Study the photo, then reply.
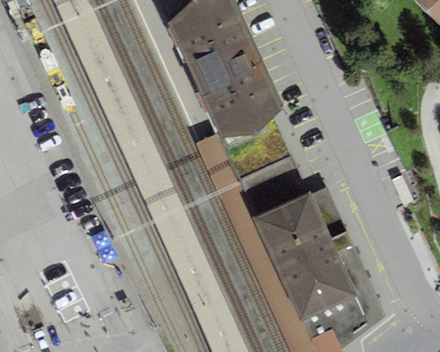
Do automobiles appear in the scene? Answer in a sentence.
Yes, the picture does show an automobile.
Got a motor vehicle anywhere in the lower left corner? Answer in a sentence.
Yes, a motor vehicle appears in the lower left corner.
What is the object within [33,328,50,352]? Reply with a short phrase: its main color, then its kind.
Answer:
white vehicle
